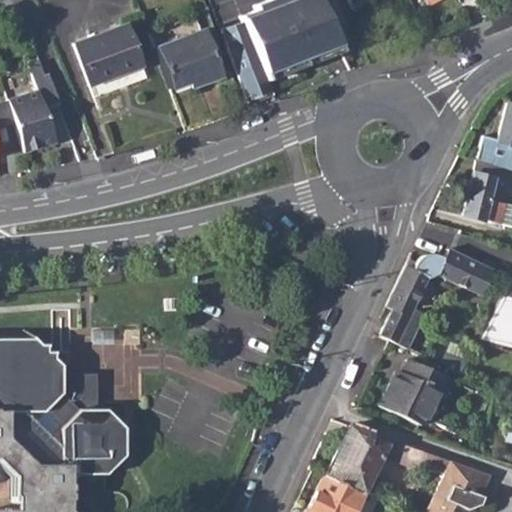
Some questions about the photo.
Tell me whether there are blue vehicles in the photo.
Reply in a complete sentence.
Yes, the frame does contain a blue vehicle.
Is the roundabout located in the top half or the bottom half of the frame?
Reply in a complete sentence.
You can find the roundabout in the top half.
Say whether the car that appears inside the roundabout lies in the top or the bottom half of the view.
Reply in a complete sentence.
Seen from above, the car that appears inside the roundabout lies in the top half of the view.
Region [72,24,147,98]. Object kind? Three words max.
house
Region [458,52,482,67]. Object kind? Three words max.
car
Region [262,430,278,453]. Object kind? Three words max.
car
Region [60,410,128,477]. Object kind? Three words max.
building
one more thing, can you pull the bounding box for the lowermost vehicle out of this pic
[244,478,258,500]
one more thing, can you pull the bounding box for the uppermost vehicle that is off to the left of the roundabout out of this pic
[242,116,264,130]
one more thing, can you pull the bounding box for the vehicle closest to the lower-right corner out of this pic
[340,359,360,388]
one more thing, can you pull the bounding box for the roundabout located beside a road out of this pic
[317,80,444,206]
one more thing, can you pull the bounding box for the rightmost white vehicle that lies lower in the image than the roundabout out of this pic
[416,240,440,254]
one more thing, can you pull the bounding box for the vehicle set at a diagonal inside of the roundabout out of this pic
[408,140,430,161]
